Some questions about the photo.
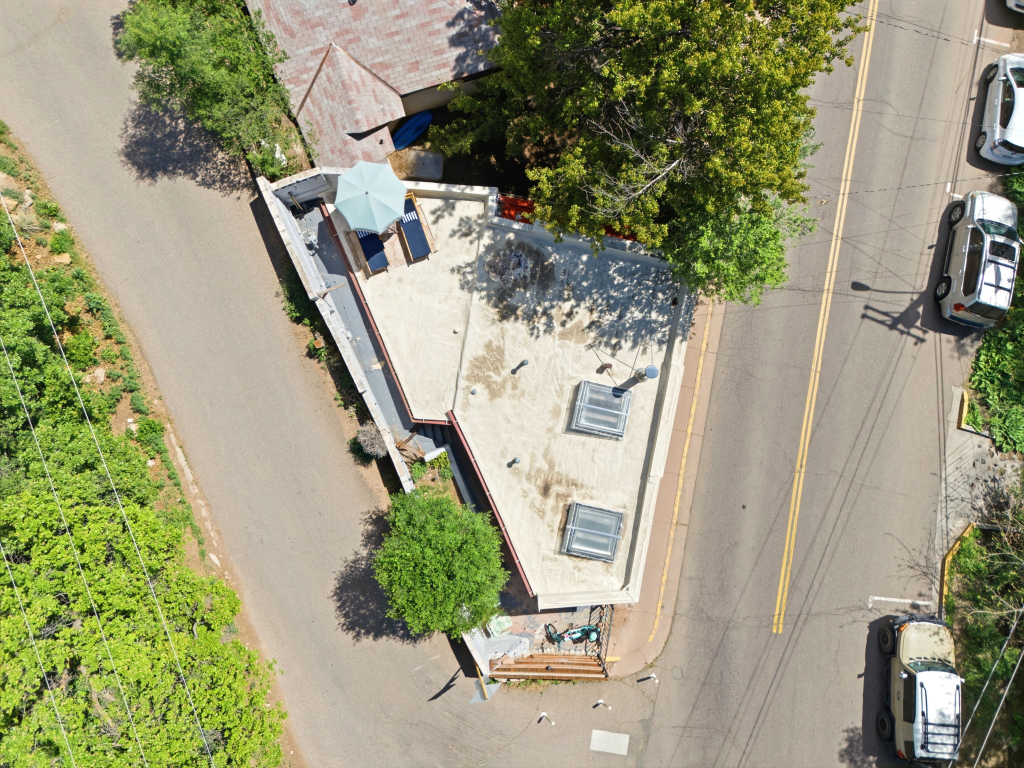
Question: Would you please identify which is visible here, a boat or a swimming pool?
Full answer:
It is a boat that can be seen here.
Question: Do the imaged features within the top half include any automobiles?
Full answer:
Yes, within the top half there is an automobile.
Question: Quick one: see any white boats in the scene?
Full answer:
No, I can see no white boat in this picture.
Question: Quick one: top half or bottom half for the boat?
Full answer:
The boat is in the top half of the image.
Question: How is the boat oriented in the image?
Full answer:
In this picture, the boat lies on a diagonal.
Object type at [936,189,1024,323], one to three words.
car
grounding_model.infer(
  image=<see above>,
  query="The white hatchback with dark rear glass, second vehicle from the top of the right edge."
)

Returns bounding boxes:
[975,51,1024,170]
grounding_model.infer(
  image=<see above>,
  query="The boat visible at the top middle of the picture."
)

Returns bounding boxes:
[395,110,432,150]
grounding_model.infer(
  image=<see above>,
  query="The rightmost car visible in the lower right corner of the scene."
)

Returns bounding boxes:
[877,608,968,768]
